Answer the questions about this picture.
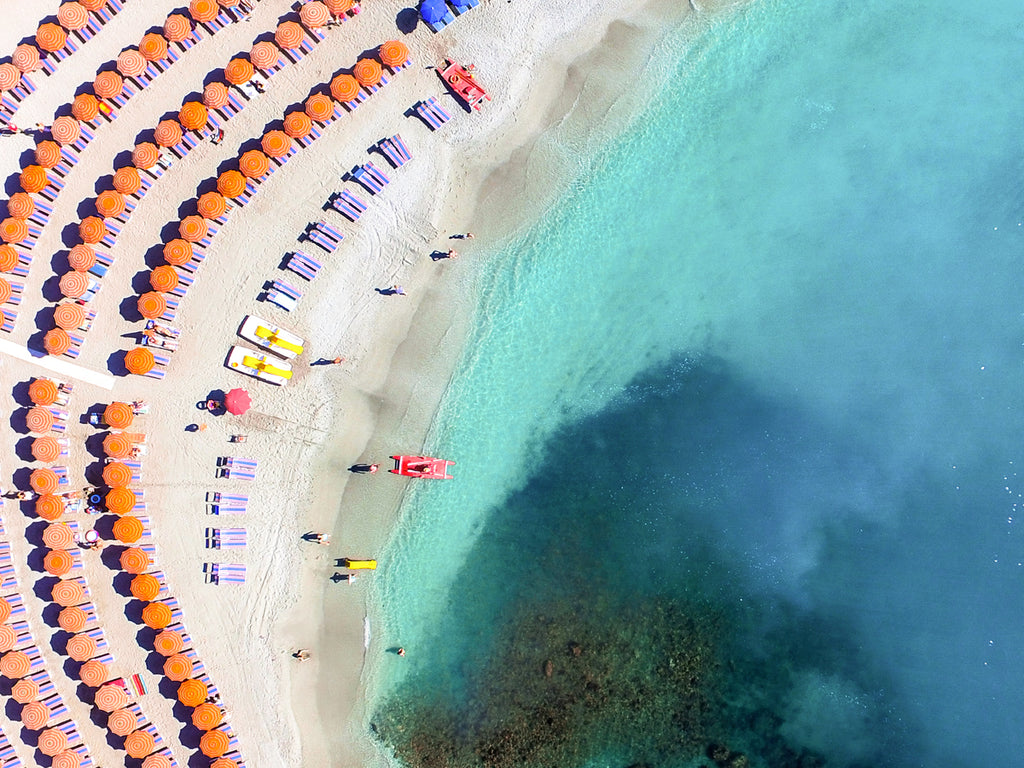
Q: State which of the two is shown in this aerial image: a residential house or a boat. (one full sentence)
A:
The image shows a boat.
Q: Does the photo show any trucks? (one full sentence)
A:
No, no truck can be seen from above.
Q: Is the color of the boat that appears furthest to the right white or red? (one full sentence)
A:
In this view, the boat that appears furthest to the right is red.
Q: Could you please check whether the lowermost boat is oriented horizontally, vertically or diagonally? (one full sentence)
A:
In this picture, the lowermost boat is oriented horizontally.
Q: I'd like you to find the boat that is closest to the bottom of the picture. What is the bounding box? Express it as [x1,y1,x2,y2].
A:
[388,454,455,481]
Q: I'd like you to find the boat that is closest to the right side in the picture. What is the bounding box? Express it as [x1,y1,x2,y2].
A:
[433,60,492,113]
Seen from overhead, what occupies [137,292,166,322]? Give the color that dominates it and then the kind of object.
orange umbrella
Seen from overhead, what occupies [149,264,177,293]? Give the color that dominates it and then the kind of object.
orange umbrella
